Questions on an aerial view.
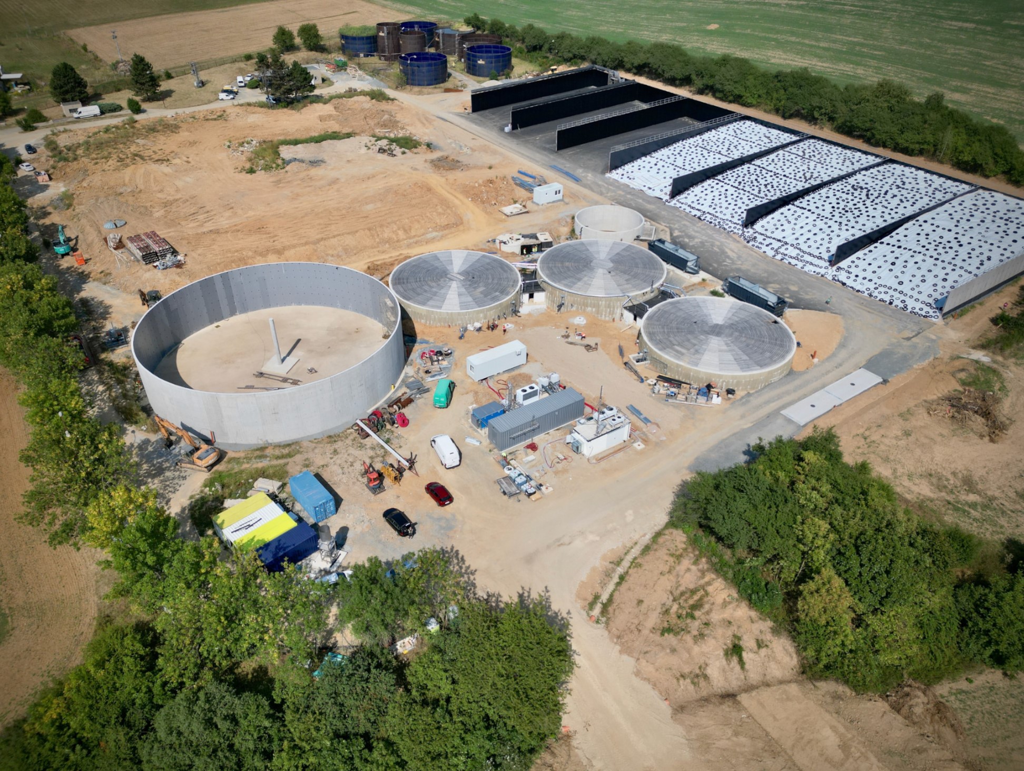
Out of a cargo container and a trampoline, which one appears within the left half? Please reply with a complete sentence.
What appears within the left half is a cargo container.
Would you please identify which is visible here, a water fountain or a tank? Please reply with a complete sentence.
It is a tank that can be seen here.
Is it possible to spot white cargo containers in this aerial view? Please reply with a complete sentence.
Yes, the photo shows a white cargo container.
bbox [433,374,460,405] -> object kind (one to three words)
vehicle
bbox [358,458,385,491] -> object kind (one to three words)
work vehicle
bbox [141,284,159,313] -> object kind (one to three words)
work vehicle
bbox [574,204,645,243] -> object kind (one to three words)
storage tank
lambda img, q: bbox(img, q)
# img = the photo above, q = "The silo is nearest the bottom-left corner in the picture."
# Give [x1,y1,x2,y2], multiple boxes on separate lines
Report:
[316,529,335,567]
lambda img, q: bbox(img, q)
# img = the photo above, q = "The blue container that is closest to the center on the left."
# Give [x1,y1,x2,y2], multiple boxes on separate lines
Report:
[289,469,337,523]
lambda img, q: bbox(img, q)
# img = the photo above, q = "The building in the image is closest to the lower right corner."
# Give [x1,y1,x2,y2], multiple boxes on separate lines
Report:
[572,407,633,458]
